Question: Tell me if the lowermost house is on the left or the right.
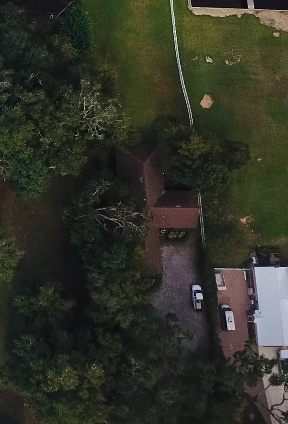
right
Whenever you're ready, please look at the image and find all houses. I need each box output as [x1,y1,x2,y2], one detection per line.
[111,144,199,274]
[248,253,288,347]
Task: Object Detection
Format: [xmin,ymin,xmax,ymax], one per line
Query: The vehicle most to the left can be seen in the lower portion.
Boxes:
[190,284,204,311]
